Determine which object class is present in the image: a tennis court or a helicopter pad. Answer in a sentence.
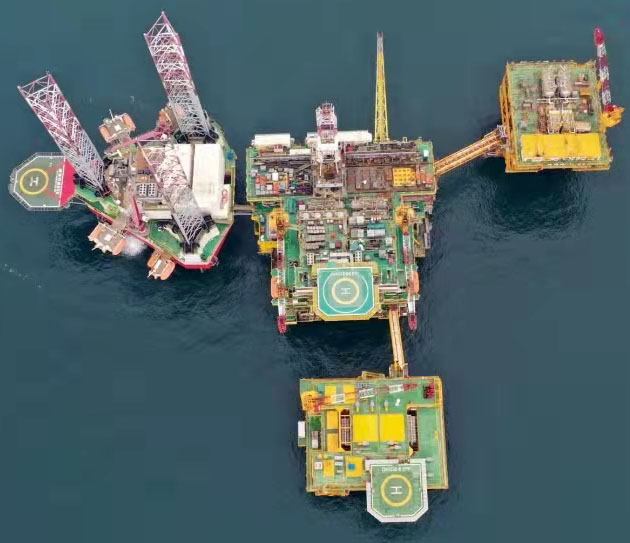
It is a helicopter pad that can be seen here.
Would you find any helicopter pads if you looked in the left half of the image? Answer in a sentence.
Yes, looking in the left half of the image, one can make out a helicopter pad.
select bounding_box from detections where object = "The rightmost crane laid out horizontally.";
[295,384,418,410]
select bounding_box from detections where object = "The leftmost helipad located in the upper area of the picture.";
[9,151,82,210]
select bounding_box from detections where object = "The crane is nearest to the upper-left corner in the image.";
[102,119,172,159]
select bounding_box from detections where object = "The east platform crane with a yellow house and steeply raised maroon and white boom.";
[593,31,620,129]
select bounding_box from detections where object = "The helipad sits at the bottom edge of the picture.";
[365,458,428,523]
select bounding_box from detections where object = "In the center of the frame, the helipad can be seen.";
[311,263,380,322]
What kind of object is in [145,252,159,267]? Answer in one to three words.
boat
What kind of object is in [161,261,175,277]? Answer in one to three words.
boat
